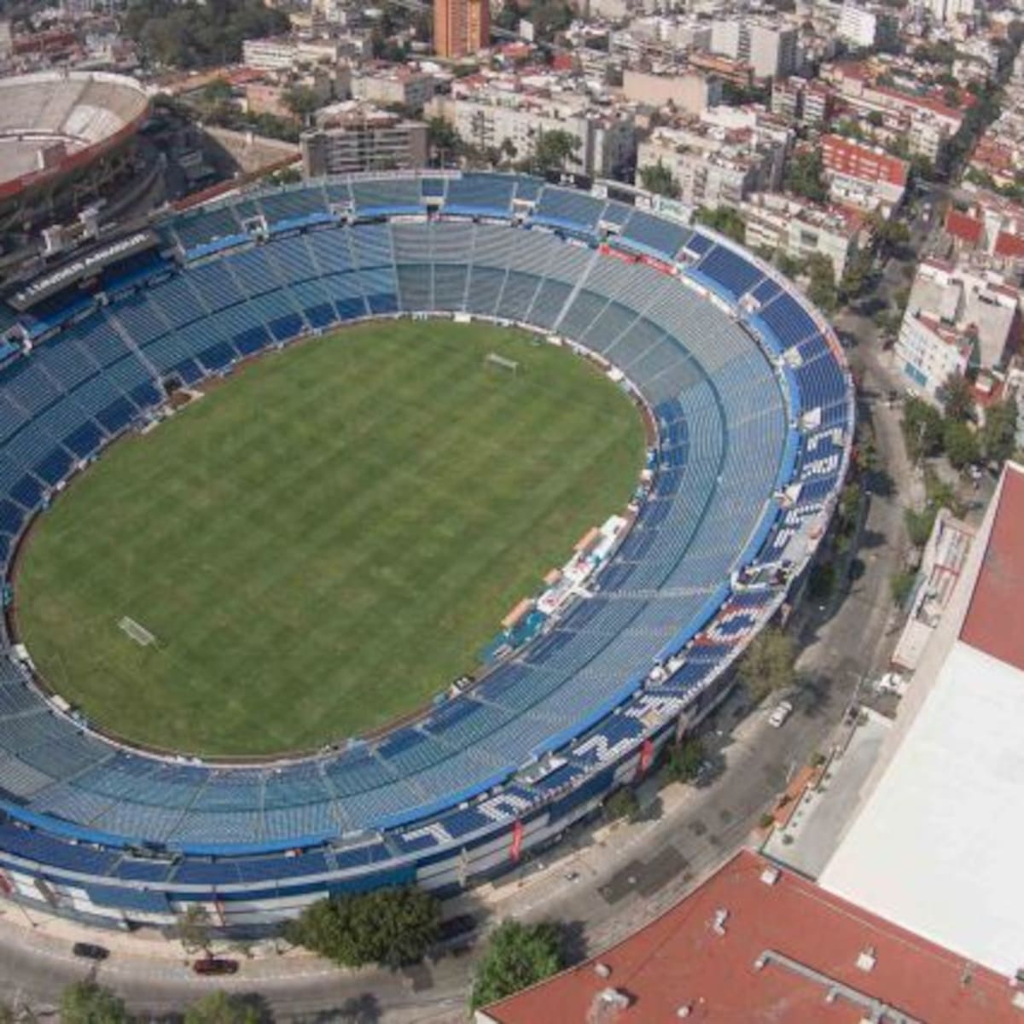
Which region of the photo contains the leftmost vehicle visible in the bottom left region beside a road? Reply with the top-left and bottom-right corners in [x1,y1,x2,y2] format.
[70,940,109,962]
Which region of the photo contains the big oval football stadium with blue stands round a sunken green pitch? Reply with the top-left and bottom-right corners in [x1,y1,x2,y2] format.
[0,176,848,937]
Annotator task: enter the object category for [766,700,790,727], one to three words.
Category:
car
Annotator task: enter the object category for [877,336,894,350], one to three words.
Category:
car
